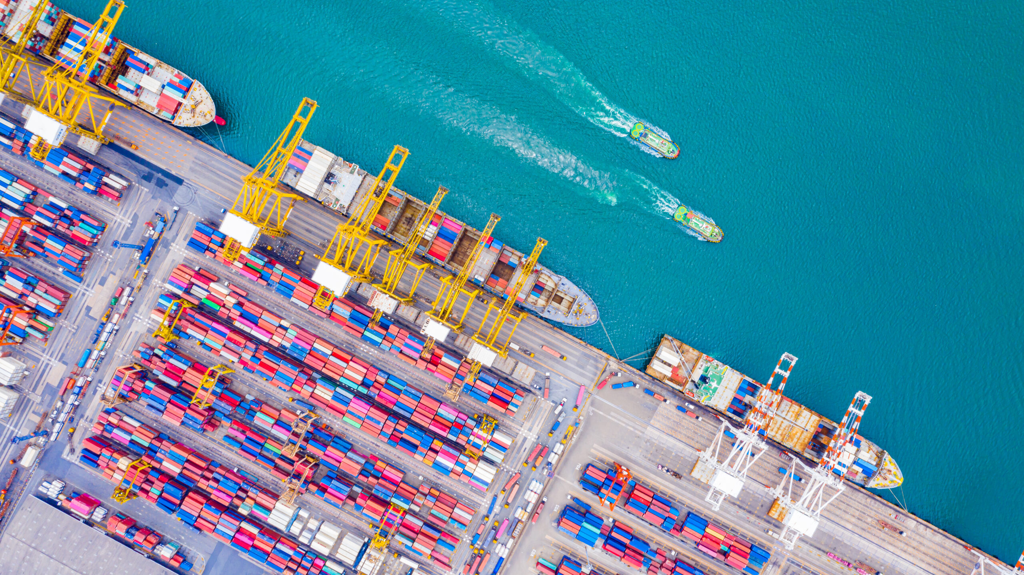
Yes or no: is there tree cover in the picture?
No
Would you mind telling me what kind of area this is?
port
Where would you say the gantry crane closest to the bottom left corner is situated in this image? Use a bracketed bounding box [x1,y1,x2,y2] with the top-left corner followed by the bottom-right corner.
[111,456,153,502]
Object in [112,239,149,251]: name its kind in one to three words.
vehicle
